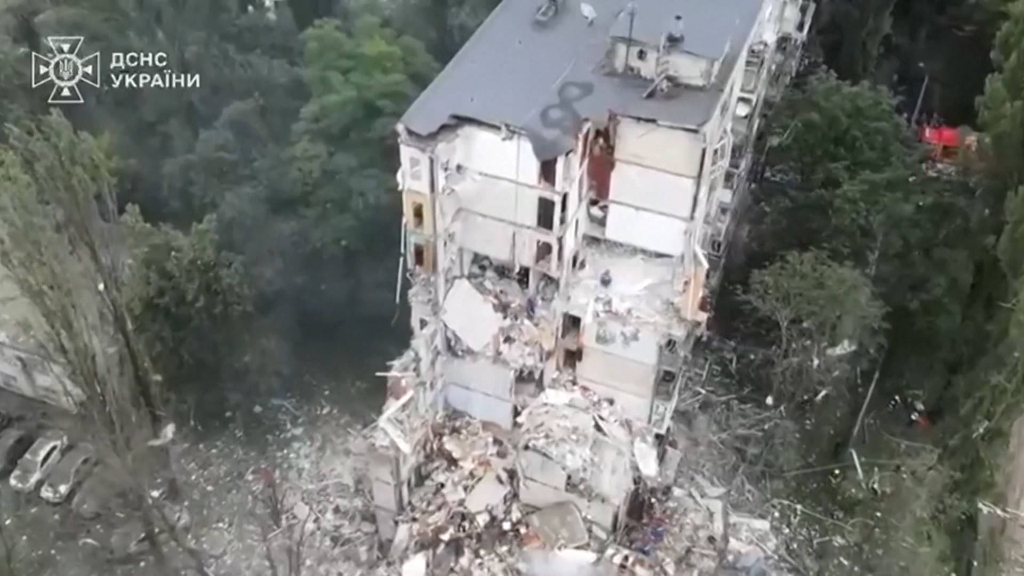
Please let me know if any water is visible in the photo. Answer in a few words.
No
